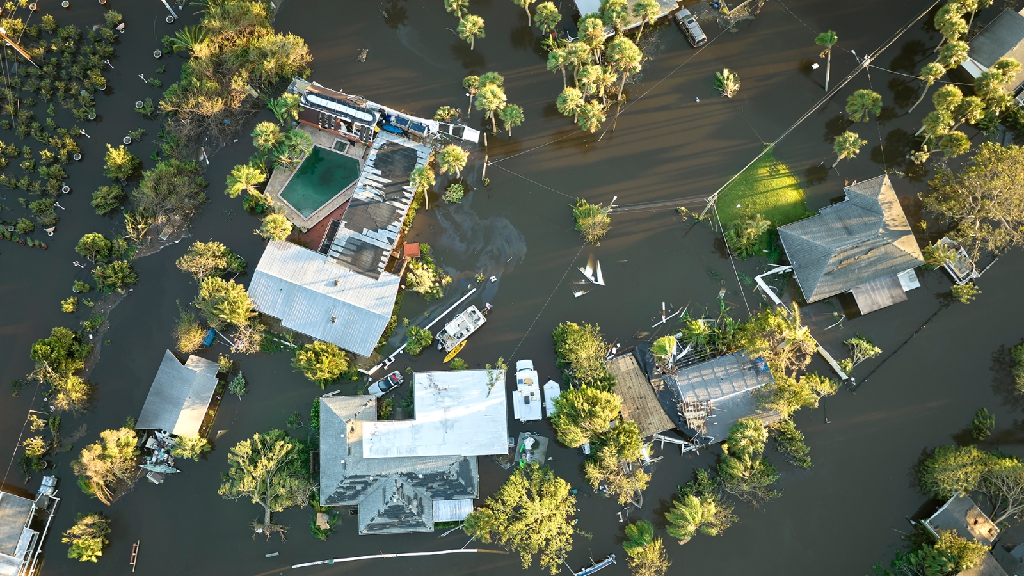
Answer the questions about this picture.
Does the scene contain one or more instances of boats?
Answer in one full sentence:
Yes, there's a boat here.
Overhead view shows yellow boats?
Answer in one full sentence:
Yes, a yellow boat can be made out from above.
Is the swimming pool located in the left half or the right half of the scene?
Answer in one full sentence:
The swimming pool appears in the left half of the scene.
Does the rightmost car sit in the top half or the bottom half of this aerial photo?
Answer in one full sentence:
Seen from above, the rightmost car lies in the top half of the view.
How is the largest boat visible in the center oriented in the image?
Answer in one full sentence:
I'd say the largest boat visible in the center is aligned diagonally in the picture.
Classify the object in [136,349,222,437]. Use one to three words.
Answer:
house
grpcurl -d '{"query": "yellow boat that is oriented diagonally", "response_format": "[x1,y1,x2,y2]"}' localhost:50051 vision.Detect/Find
[444,341,466,363]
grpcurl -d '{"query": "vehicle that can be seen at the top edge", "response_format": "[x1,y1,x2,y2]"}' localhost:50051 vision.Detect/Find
[676,10,705,49]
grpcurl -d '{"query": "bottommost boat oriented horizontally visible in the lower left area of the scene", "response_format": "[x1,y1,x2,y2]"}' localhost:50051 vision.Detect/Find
[138,463,180,475]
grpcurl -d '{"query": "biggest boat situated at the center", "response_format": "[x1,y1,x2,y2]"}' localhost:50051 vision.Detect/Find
[435,302,488,352]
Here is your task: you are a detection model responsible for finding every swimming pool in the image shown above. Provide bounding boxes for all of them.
[276,143,363,222]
